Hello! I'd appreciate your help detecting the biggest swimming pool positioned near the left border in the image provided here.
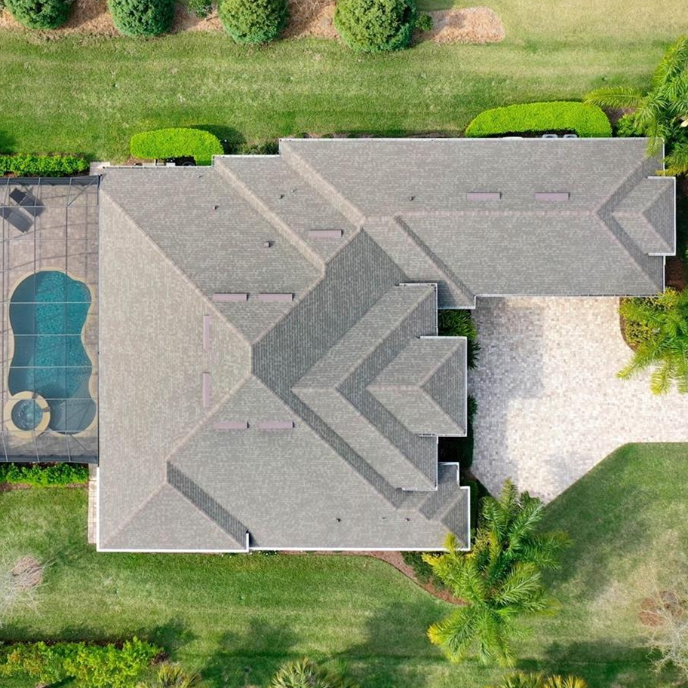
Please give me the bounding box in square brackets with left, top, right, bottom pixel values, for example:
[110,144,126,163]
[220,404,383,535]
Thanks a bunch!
[4,265,97,441]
